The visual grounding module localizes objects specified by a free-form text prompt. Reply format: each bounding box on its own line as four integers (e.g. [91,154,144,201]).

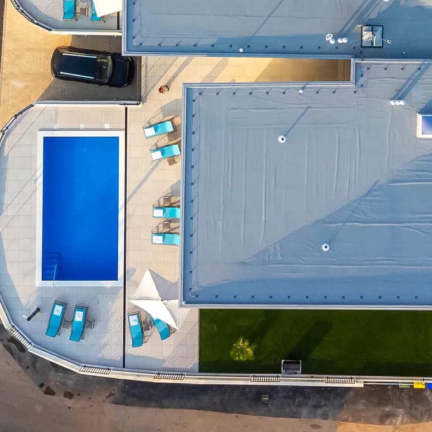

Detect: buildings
[123,0,432,58]
[180,60,432,308]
